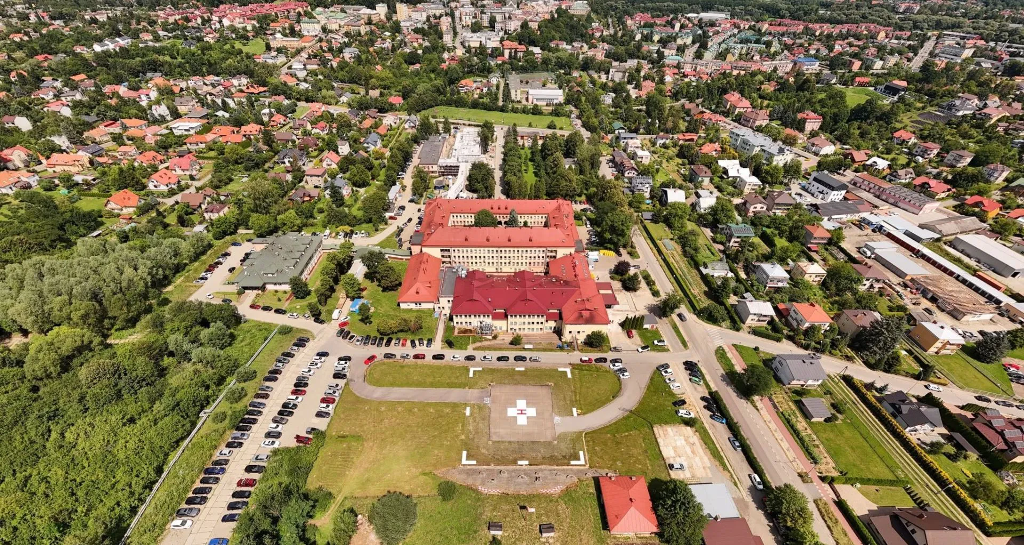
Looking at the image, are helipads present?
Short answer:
Yes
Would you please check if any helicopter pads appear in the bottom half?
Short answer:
Yes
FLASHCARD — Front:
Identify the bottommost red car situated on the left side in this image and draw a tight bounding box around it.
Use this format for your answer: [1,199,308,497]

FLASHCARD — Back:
[238,477,256,489]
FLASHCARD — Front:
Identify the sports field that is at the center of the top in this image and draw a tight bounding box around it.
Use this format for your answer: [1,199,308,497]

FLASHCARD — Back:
[418,107,565,129]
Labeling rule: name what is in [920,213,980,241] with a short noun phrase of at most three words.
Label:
barn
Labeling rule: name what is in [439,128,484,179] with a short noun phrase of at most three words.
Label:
building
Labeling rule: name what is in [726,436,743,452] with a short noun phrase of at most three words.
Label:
car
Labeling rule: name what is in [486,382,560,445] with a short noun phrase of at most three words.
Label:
helipad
